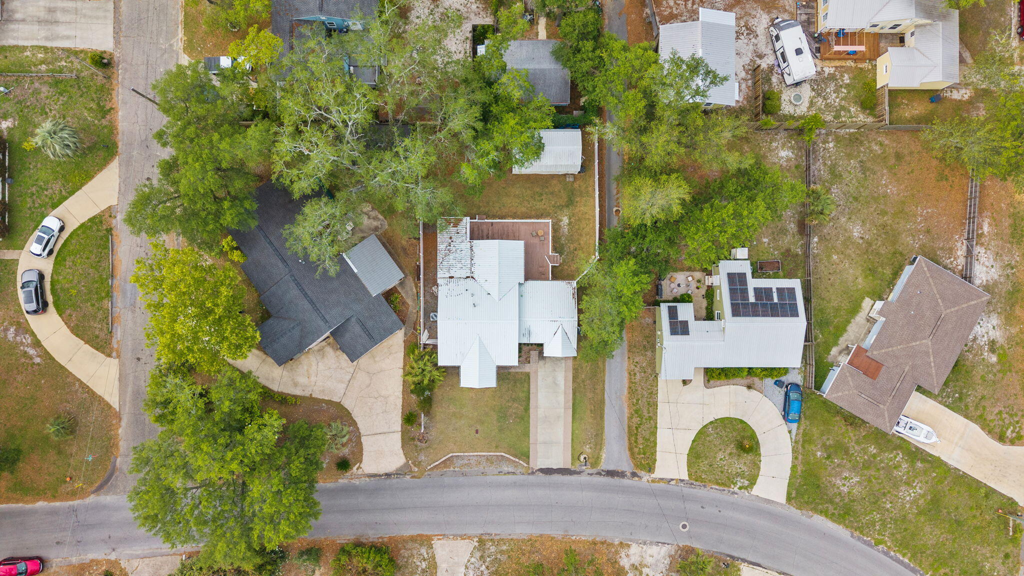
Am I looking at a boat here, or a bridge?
boat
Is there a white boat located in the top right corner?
No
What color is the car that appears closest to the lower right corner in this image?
blue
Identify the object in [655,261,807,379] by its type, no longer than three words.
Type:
house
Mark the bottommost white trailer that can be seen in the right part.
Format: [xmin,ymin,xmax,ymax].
[769,23,817,86]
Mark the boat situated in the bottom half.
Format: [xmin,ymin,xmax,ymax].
[894,411,942,444]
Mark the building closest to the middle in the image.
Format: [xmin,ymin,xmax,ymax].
[438,217,578,388]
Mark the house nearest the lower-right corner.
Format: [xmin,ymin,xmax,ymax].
[817,254,991,434]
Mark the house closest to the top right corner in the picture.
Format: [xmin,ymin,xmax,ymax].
[809,0,959,92]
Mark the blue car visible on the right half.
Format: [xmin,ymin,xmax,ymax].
[782,382,803,424]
